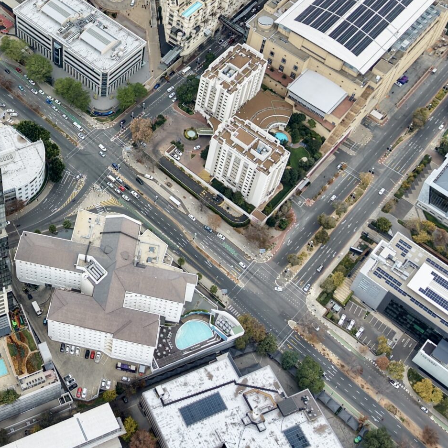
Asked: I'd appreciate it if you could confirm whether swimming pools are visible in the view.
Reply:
Yes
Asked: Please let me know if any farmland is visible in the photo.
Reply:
No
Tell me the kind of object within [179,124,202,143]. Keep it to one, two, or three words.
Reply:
fountain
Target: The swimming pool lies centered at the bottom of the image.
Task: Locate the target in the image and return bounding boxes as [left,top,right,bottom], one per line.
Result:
[176,320,214,349]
